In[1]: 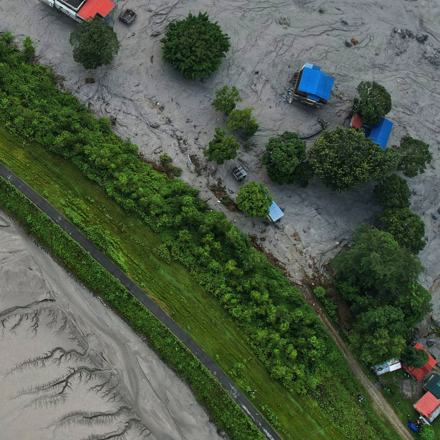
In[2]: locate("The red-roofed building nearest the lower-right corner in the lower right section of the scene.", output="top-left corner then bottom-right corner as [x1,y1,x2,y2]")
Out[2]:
[410,392,440,423]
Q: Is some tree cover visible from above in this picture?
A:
Yes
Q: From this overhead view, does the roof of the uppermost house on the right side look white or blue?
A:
blue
